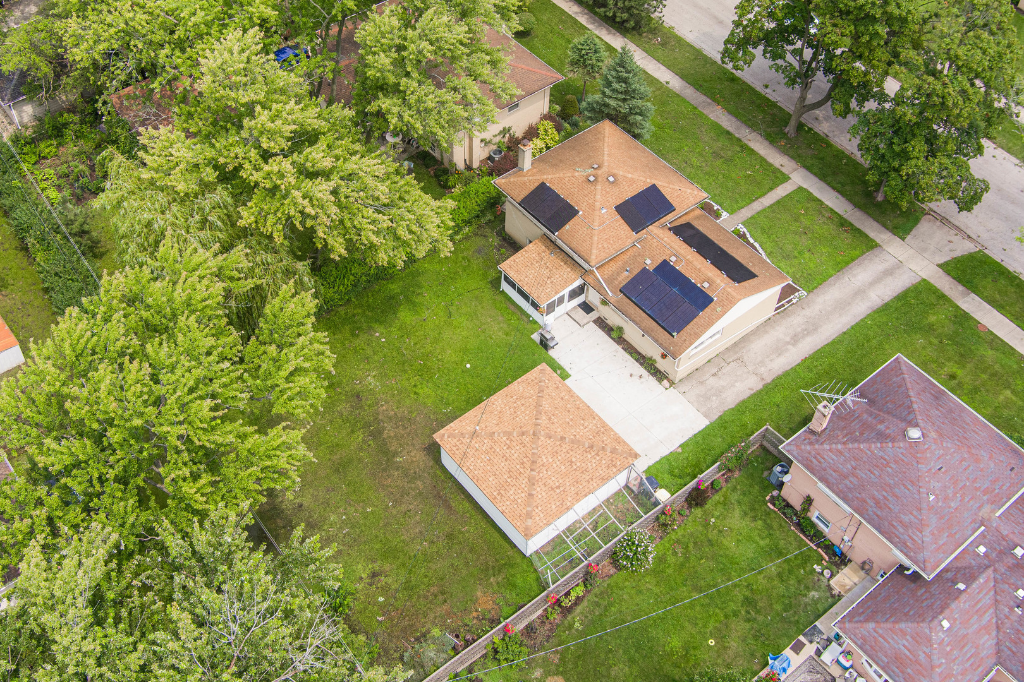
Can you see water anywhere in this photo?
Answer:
No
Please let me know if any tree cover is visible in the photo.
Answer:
Yes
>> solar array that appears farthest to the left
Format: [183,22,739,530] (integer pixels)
[519,181,581,235]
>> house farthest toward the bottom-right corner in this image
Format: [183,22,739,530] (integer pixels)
[776,352,1024,682]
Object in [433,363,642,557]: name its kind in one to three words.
building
